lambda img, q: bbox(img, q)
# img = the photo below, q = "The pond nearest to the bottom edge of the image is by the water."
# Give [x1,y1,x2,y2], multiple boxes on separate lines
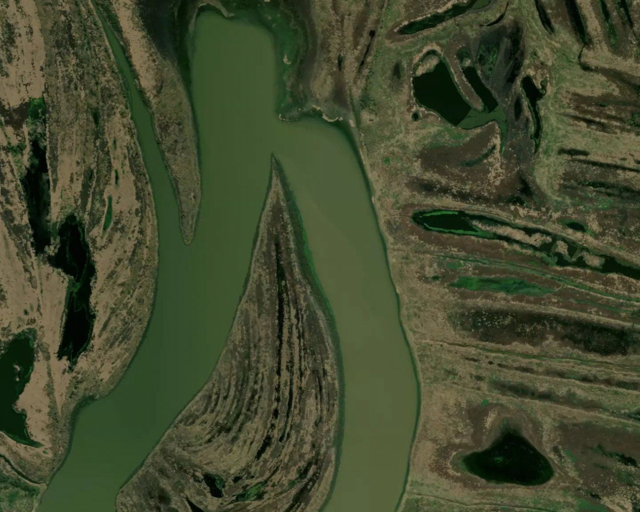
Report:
[462,430,552,485]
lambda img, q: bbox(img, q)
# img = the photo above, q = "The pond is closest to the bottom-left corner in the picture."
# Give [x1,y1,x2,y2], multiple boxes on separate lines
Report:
[0,327,43,448]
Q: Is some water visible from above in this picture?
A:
Yes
